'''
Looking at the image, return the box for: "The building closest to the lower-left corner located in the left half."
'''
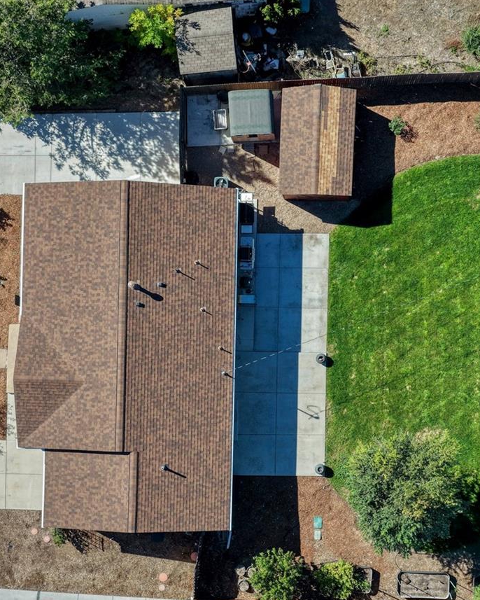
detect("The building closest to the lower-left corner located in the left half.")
[13,181,241,549]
